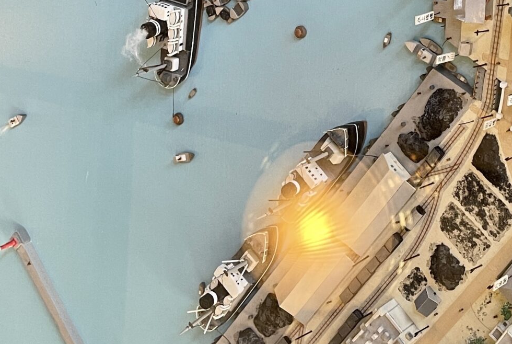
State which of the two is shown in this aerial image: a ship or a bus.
ship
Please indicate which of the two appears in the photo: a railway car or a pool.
railway car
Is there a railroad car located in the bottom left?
No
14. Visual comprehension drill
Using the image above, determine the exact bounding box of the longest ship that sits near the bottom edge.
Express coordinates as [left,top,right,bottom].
[184,222,301,338]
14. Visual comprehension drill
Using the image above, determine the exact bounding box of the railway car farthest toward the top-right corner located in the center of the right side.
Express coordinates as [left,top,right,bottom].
[427,143,447,161]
